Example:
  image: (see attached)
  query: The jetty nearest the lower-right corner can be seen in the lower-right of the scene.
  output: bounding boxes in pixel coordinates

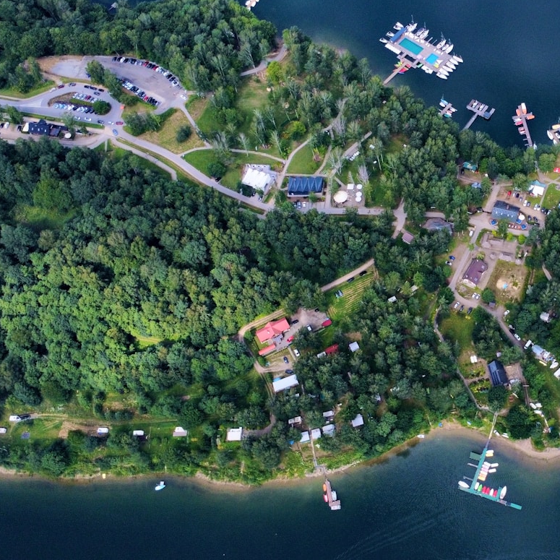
[458,434,523,510]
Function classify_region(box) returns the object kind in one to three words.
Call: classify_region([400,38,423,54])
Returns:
swimming pool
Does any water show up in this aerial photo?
Yes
